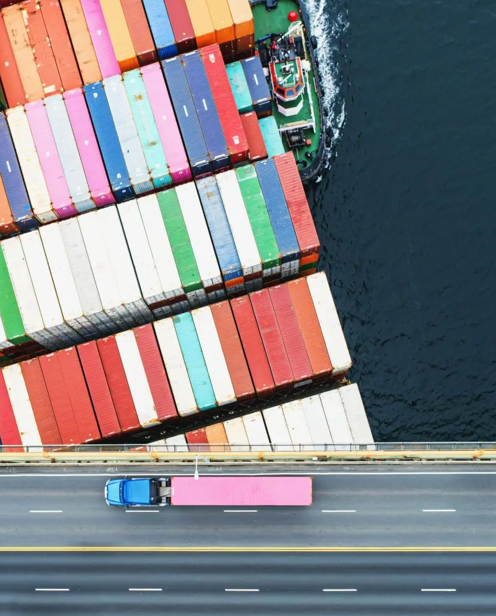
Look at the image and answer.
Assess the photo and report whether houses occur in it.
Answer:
No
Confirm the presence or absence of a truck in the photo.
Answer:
Yes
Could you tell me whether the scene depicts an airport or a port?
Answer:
port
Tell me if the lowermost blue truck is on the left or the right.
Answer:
left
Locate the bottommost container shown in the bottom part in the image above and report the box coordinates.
[172,477,312,506]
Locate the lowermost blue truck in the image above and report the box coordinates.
[104,475,172,509]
